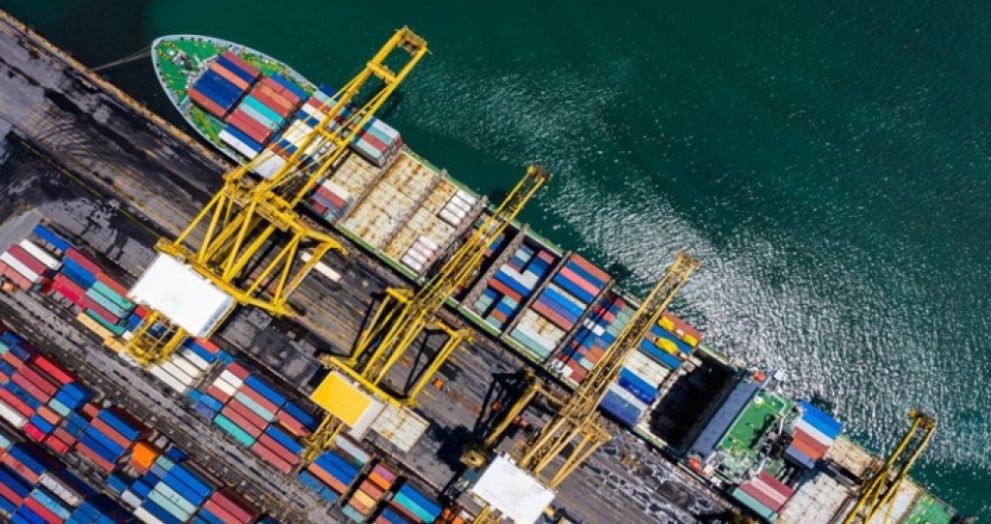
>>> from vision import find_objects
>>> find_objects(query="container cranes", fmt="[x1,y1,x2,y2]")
[281,159,546,477]
[123,27,433,380]
[465,252,702,524]
[842,411,947,524]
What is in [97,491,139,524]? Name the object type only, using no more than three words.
shipping container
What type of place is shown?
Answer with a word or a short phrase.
port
